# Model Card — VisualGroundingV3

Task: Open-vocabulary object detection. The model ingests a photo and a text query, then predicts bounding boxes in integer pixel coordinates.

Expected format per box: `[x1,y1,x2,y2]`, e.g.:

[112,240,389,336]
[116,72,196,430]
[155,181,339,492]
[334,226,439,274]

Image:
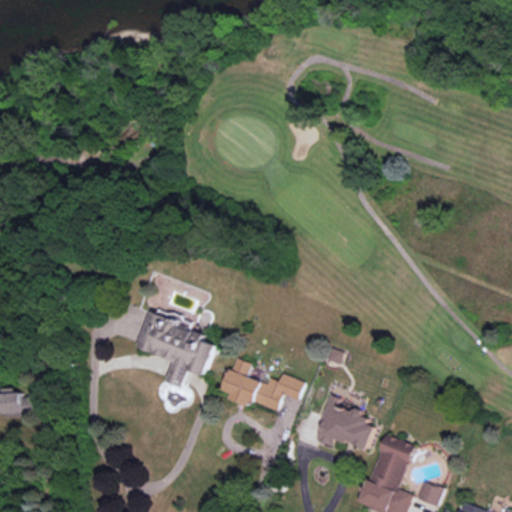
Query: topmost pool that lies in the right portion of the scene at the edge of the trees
[410,462,442,484]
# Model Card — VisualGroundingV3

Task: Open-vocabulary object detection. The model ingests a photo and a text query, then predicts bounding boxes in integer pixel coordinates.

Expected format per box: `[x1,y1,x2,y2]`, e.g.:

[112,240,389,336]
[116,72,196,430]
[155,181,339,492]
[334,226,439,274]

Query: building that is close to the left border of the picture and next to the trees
[0,388,35,416]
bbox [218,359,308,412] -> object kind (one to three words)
house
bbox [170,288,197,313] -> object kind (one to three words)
swimming pool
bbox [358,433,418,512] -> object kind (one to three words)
house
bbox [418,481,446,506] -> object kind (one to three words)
building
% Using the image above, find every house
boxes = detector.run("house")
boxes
[358,433,418,512]
[318,395,379,454]
[0,388,35,416]
[454,503,489,512]
[218,359,308,412]
[137,308,220,389]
